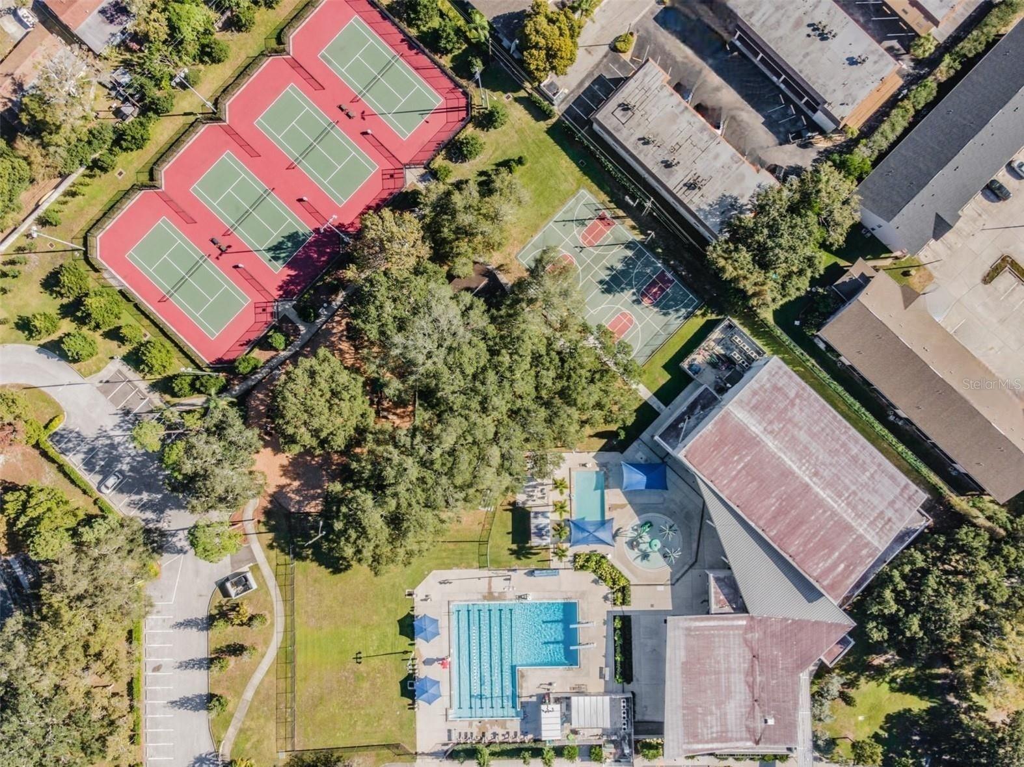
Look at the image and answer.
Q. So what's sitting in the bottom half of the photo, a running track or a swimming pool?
swimming pool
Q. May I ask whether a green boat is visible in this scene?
No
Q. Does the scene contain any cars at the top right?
Yes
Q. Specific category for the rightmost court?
basketball court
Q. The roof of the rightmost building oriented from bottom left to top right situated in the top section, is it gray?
Yes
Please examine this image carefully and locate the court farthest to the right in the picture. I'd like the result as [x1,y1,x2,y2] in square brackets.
[518,189,704,364]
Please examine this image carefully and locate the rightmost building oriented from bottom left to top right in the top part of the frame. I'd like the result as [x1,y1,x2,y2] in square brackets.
[858,17,1024,259]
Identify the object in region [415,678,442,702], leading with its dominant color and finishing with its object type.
blue umbrella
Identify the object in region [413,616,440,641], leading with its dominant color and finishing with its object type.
blue umbrella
